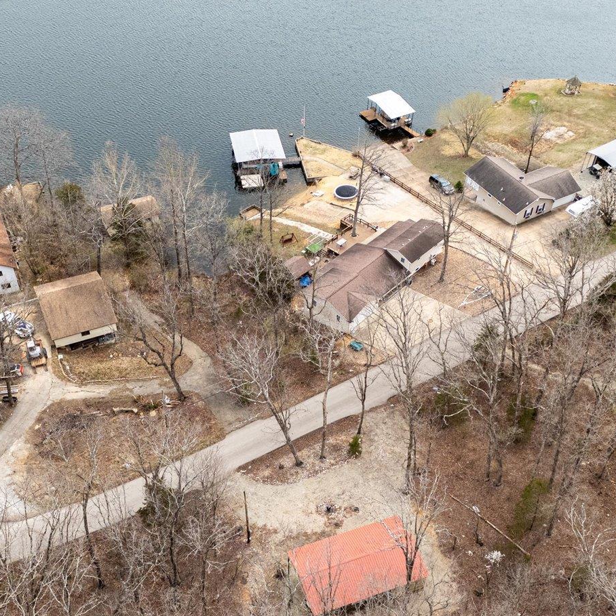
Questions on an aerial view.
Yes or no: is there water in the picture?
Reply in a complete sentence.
Yes, water can be seen from above here.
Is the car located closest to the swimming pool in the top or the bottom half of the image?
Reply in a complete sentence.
The car located closest to the swimming pool is in the top half of the image.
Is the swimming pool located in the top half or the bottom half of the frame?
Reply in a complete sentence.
You can find the swimming pool in the top half.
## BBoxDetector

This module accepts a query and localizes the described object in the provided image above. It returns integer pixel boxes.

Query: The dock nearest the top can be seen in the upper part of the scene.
[359,91,422,139]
